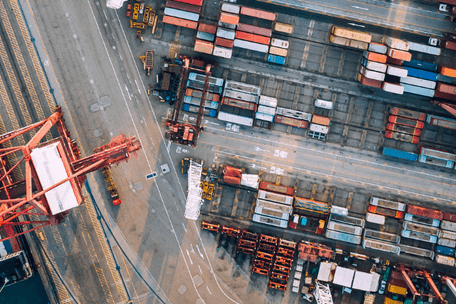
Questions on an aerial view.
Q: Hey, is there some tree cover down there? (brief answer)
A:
No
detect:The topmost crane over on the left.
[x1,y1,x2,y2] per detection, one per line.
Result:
[152,56,211,146]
